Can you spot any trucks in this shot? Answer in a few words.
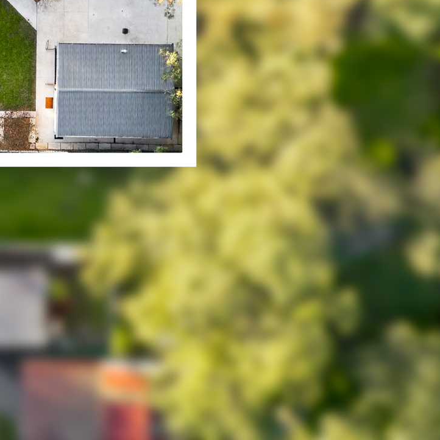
No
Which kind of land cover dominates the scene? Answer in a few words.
trees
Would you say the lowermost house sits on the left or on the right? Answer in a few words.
left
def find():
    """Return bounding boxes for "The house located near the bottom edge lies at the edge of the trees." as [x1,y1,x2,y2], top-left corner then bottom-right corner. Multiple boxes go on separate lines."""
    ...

[21,357,158,440]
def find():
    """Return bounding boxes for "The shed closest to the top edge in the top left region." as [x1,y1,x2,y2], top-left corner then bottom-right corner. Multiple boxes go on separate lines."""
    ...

[43,40,176,138]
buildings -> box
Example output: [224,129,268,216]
[0,265,48,347]
[21,357,158,440]
[43,40,176,138]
